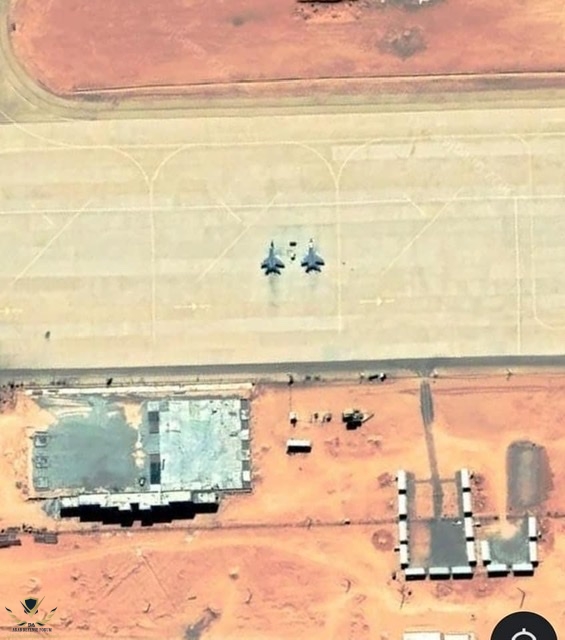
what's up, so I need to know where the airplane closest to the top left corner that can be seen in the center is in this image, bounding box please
[260,241,284,275]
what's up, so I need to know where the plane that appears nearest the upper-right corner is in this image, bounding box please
[301,239,324,273]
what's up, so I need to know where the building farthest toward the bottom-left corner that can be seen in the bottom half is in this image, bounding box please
[59,492,218,511]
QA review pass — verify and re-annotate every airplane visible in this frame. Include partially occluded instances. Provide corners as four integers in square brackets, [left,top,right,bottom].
[260,241,284,275]
[301,239,324,273]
